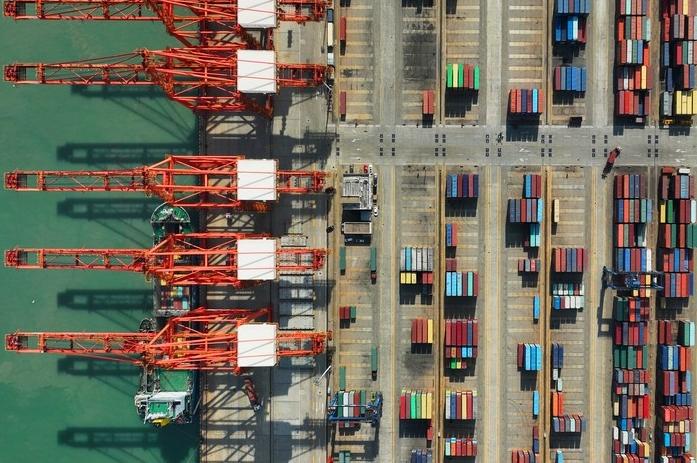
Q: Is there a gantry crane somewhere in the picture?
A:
Yes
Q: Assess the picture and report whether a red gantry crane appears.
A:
Yes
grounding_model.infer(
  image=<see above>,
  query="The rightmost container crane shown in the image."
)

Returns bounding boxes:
[604,268,666,290]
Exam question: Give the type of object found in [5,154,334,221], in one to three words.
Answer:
container crane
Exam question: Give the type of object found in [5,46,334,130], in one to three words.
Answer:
container crane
